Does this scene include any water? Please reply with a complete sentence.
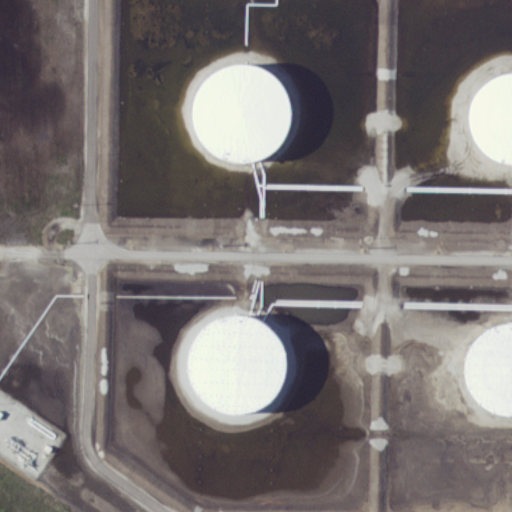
Yes, there's water in this view.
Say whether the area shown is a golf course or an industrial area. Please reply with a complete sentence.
The area seen from above is an industrial area.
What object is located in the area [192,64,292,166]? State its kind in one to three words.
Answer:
storage tank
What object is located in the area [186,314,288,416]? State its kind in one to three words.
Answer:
storage tank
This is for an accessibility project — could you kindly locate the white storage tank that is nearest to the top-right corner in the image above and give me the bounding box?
[467,73,512,168]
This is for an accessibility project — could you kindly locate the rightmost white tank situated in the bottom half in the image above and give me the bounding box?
[462,321,512,420]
